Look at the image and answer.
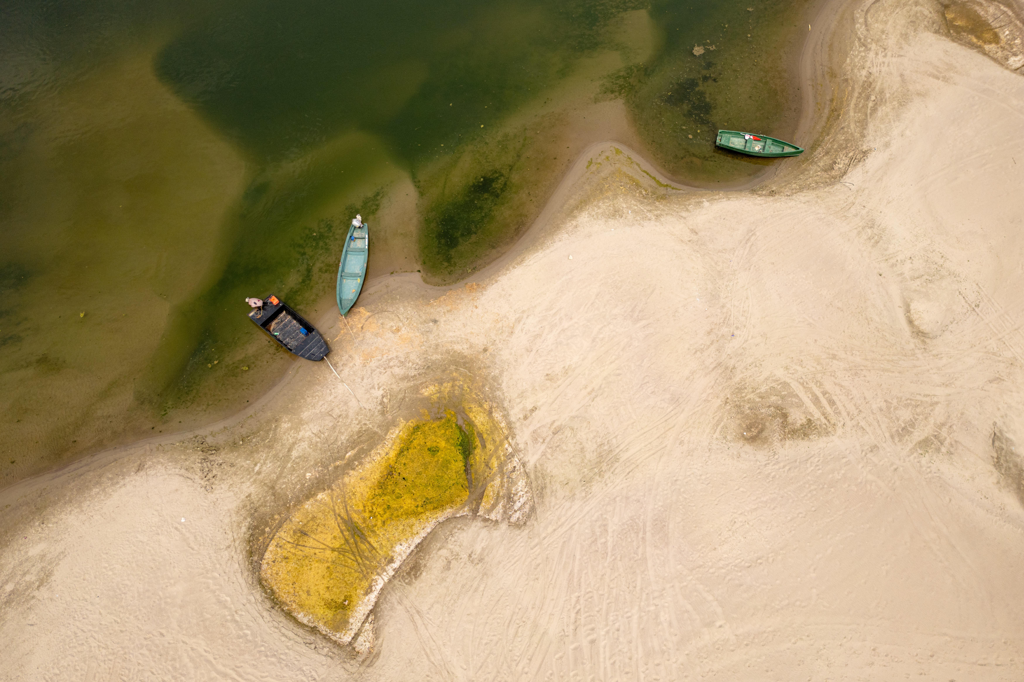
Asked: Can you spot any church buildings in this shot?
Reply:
No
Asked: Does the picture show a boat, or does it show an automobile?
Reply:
boat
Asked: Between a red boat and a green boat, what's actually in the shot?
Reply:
green boat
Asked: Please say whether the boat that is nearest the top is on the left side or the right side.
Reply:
right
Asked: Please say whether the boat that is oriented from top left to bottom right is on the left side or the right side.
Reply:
left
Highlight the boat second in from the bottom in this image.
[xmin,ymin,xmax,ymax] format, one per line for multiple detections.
[336,223,369,317]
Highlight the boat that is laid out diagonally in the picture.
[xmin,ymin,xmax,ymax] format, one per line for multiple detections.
[247,294,332,361]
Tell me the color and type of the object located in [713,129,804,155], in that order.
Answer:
green boat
